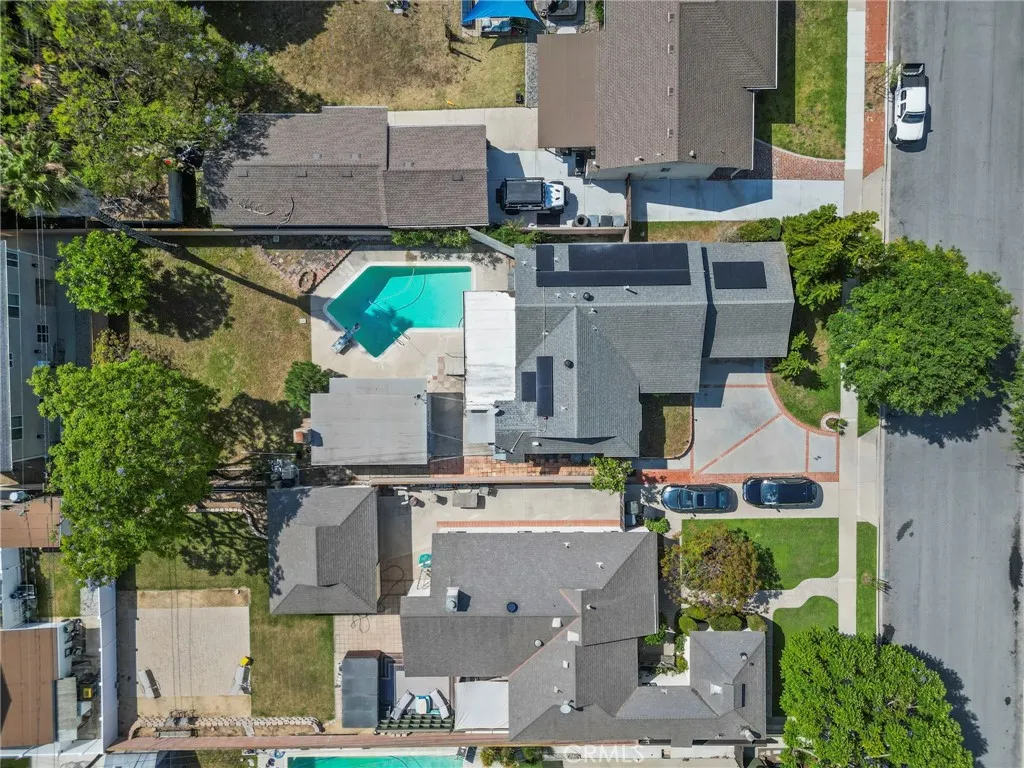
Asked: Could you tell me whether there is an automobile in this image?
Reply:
Yes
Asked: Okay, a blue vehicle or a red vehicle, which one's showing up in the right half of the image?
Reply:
blue vehicle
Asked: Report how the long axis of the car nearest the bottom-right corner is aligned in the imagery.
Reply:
horizontally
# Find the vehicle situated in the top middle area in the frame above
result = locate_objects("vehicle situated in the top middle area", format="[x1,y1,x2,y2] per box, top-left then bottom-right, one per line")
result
[497,176,563,211]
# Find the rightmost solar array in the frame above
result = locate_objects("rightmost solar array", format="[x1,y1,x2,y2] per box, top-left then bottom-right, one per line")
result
[713,261,767,288]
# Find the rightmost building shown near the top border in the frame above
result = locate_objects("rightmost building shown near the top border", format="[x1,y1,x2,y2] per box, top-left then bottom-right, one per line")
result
[594,0,779,179]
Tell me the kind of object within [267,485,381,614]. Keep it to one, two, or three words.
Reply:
building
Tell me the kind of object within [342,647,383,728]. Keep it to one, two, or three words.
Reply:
shed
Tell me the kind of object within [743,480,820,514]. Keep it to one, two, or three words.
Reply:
car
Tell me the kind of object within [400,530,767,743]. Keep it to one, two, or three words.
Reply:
house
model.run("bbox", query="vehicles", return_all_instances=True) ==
[743,480,820,514]
[887,64,931,147]
[660,484,733,516]
[497,176,563,211]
